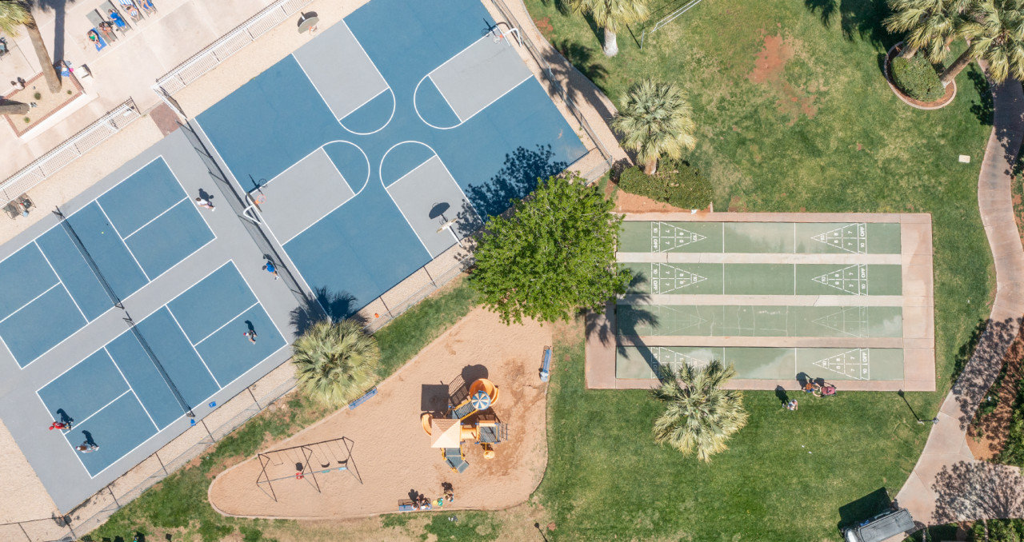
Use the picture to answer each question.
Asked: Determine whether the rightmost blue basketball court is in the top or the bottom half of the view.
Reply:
top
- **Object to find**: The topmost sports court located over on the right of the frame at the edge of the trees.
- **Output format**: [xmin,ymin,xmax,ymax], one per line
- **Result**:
[616,220,901,253]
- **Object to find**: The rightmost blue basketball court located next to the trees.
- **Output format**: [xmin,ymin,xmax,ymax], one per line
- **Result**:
[193,0,590,322]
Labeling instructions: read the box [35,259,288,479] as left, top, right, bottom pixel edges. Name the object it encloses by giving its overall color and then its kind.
blue sports court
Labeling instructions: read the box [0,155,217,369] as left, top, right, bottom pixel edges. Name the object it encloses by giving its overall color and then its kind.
blue sports court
